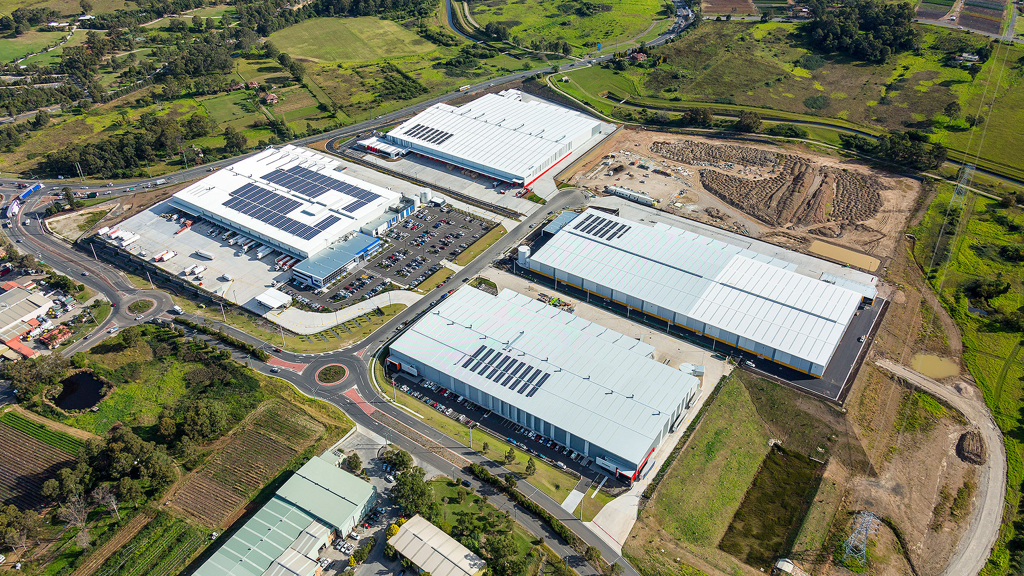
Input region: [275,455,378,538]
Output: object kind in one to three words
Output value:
building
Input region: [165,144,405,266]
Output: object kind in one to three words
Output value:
warehouse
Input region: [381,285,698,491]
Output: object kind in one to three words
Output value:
warehouse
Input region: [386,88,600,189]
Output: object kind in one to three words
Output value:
building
